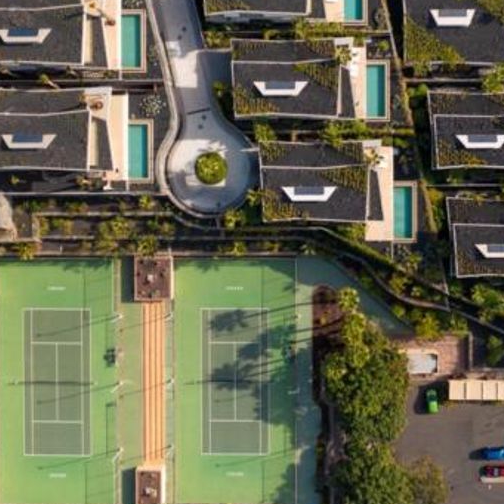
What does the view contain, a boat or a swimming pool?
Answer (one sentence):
Of the two, only a swimming pool appears.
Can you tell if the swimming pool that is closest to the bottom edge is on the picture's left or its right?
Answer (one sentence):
You can find the swimming pool that is closest to the bottom edge on the right side of the picture.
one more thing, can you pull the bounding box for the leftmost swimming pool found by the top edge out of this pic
[121,9,146,72]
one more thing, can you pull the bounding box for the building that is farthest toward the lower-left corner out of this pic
[135,466,164,504]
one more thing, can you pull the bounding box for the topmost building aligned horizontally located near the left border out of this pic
[0,0,164,78]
